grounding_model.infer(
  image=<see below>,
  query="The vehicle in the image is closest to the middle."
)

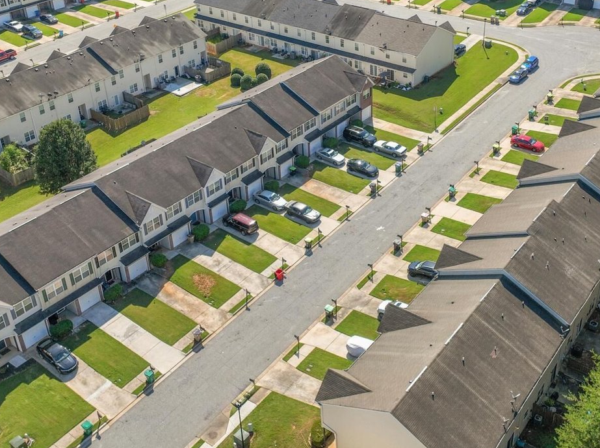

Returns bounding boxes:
[283,200,324,225]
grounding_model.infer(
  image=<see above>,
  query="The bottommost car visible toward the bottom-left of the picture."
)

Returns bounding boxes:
[31,337,78,374]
